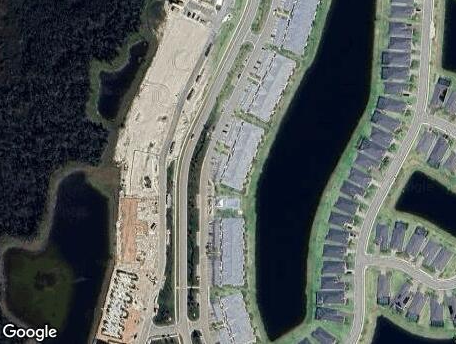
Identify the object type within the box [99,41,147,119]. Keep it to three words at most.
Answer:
pond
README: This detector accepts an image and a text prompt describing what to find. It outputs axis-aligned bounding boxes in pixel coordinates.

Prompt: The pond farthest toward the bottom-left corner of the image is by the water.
[4,171,111,344]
